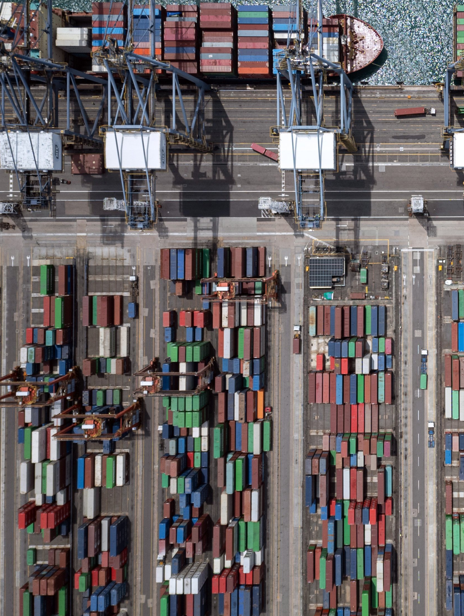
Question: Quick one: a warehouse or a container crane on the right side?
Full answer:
It is a container crane that can be seen on the right side.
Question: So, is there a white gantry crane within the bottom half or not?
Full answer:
No, within the bottom half there is no white gantry crane.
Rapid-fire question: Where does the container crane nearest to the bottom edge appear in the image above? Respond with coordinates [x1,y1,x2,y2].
[49,400,137,442]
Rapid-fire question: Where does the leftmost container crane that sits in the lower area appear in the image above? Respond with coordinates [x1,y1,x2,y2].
[0,369,71,409]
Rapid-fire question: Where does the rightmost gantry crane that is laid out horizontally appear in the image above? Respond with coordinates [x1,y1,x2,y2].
[200,270,278,304]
